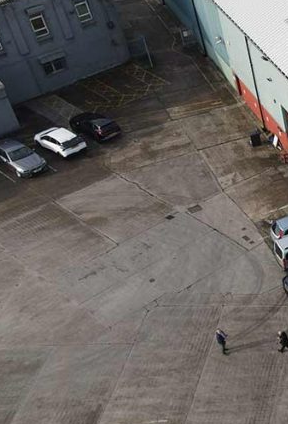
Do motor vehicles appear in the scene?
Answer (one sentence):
Yes, a motor vehicle is visible in the scene.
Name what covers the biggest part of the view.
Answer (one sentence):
The scene is dominated by paved ground.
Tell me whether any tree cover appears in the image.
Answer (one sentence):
No, tree cover can't be seen anywhere here.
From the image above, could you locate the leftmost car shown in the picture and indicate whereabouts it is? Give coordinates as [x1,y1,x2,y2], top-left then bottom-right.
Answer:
[0,138,47,173]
